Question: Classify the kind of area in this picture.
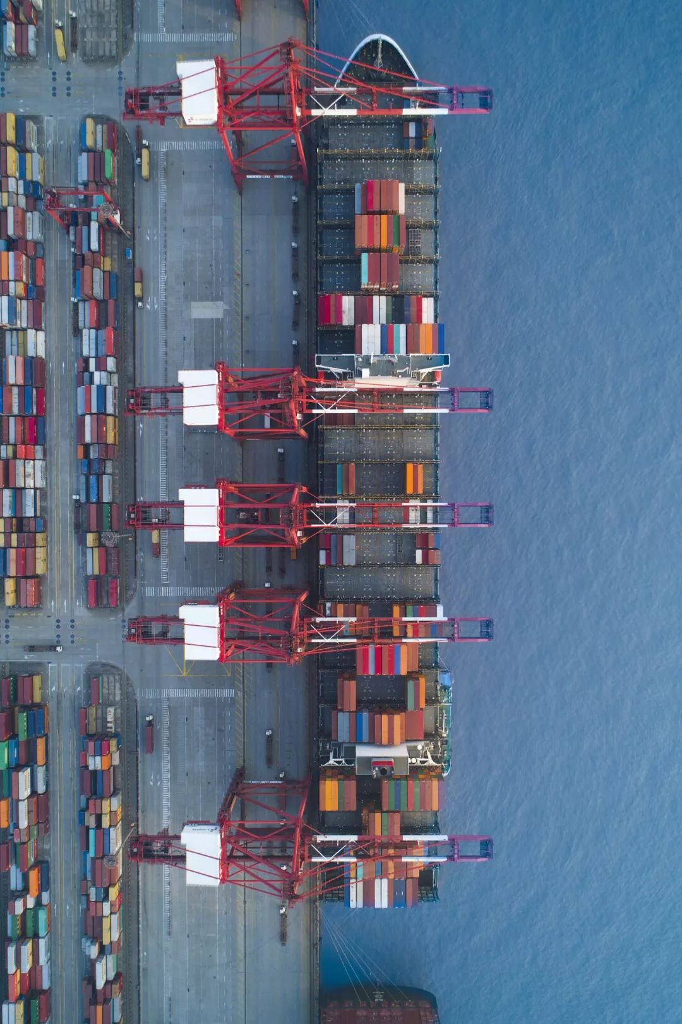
port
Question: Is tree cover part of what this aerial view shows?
No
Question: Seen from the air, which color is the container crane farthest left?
red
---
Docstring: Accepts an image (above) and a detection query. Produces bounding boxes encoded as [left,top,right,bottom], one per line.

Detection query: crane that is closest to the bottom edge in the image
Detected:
[126,764,495,906]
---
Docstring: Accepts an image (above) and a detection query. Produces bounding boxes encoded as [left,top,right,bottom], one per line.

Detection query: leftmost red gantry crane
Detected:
[46,189,125,239]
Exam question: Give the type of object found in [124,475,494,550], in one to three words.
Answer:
container crane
